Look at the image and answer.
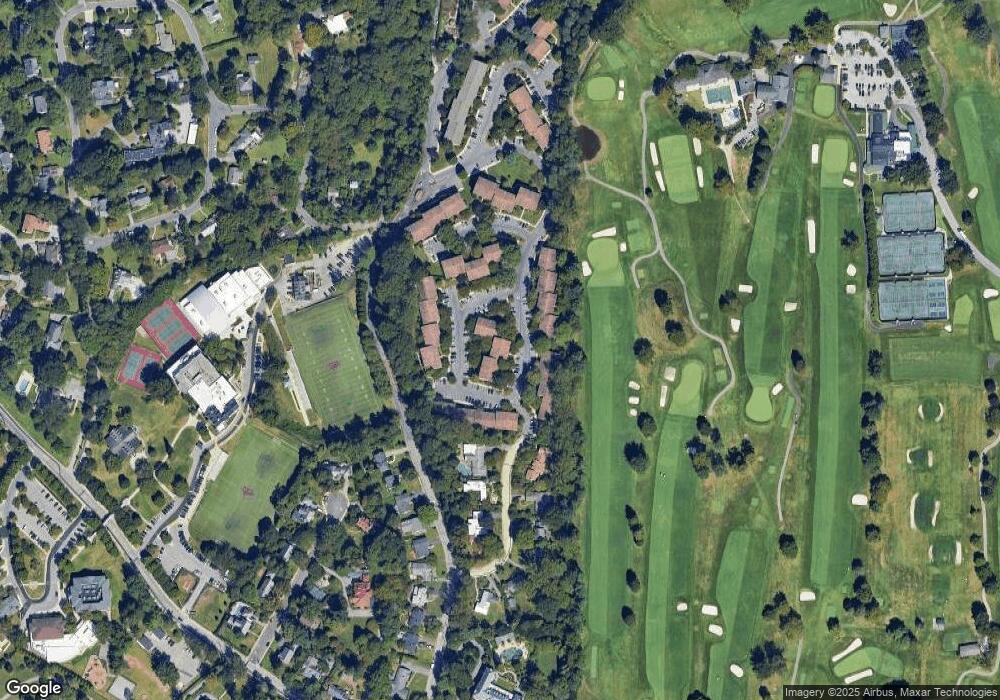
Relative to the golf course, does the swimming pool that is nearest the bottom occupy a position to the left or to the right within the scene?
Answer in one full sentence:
The swimming pool that is nearest the bottom appears to the left of the golf course in this view.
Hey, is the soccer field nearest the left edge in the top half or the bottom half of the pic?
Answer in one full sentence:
The soccer field nearest the left edge is in the bottom half of the image.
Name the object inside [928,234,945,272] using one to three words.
tennis court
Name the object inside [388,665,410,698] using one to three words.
house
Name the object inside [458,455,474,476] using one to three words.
swimming pool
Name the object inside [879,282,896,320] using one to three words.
tennis court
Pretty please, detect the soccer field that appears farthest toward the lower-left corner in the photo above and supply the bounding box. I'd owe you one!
[191,423,300,551]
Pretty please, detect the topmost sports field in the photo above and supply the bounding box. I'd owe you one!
[285,294,384,432]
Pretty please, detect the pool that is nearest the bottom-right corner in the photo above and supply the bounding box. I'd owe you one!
[497,641,528,664]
